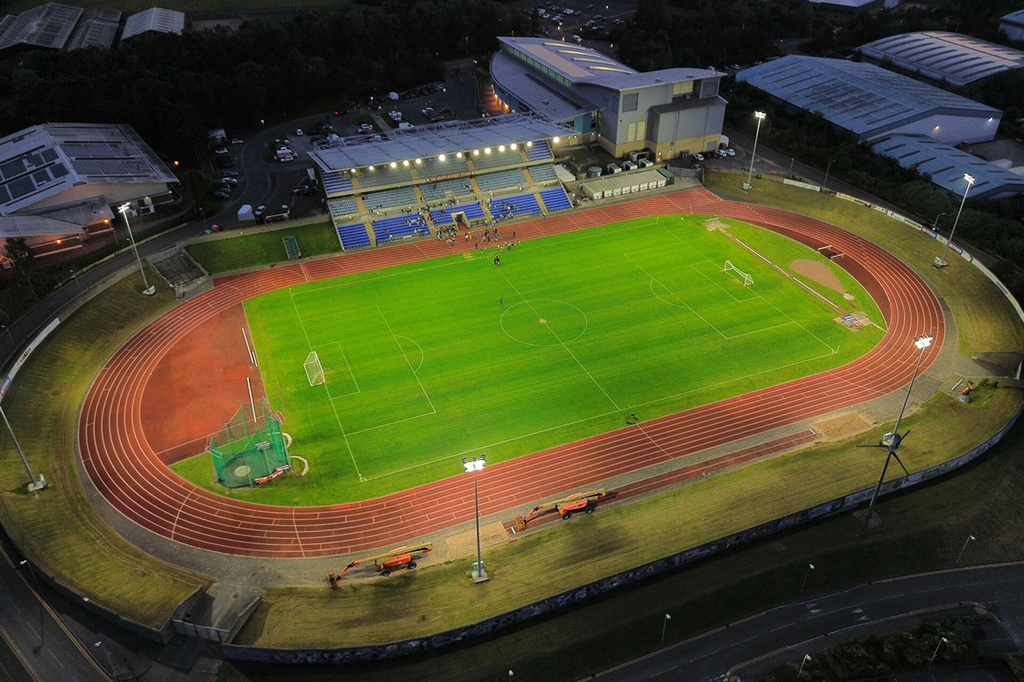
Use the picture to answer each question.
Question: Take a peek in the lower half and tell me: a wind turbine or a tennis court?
wind turbine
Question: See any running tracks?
Yes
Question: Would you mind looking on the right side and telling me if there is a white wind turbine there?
No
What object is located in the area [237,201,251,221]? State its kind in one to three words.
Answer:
vehicle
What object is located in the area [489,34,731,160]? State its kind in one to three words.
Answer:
building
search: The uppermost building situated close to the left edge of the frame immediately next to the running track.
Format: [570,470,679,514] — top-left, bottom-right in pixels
[0,121,184,222]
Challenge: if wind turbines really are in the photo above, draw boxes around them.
[861,431,909,518]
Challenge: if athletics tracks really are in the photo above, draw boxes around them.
[79,199,945,555]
